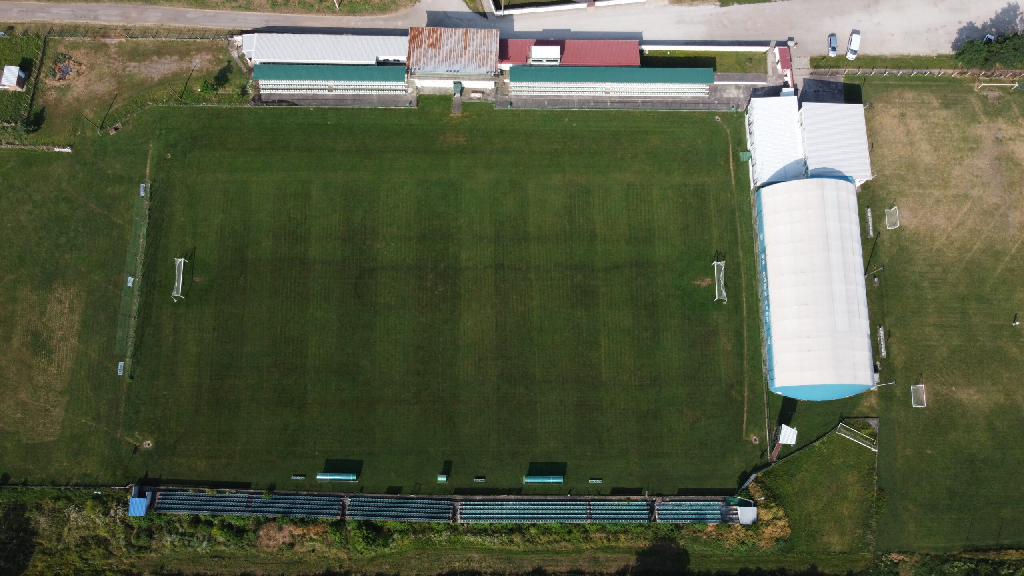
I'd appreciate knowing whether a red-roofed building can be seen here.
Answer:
Yes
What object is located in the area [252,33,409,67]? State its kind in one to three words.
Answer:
building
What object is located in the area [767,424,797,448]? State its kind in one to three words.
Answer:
building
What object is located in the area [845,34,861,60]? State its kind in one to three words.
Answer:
car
